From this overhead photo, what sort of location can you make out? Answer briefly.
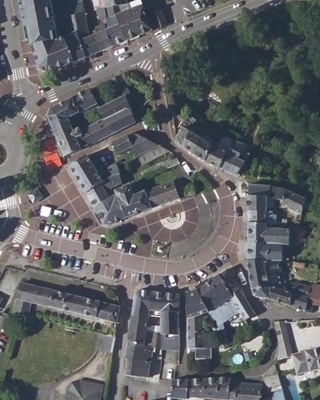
residential area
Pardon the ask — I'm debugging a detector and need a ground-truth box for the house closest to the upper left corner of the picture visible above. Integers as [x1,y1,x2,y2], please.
[20,0,62,41]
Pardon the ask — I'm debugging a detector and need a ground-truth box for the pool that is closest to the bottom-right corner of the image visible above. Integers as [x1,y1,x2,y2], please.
[288,373,302,400]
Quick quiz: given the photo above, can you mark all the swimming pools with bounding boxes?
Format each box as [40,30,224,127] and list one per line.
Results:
[233,354,244,365]
[288,373,302,400]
